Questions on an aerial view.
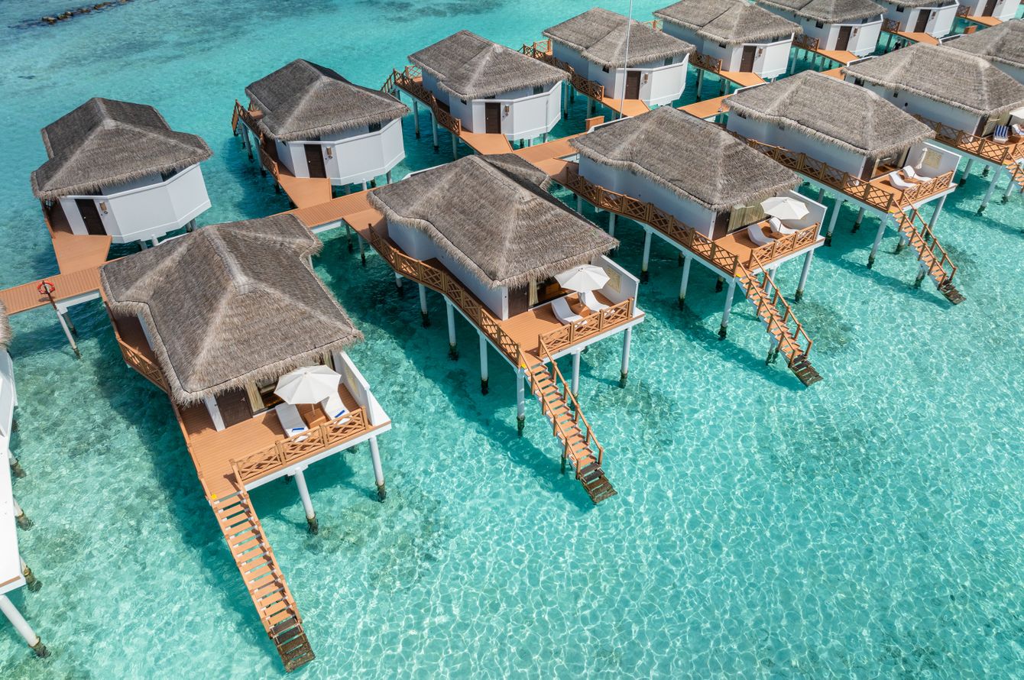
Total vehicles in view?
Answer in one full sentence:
The photo contains no vehicles.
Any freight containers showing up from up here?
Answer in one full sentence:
No, no freight container is visible in the view.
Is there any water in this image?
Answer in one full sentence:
Yes, water shows up in the scene.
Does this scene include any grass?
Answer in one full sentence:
No, there is no grass in the image.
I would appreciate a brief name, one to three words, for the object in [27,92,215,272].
house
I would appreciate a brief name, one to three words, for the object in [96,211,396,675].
house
